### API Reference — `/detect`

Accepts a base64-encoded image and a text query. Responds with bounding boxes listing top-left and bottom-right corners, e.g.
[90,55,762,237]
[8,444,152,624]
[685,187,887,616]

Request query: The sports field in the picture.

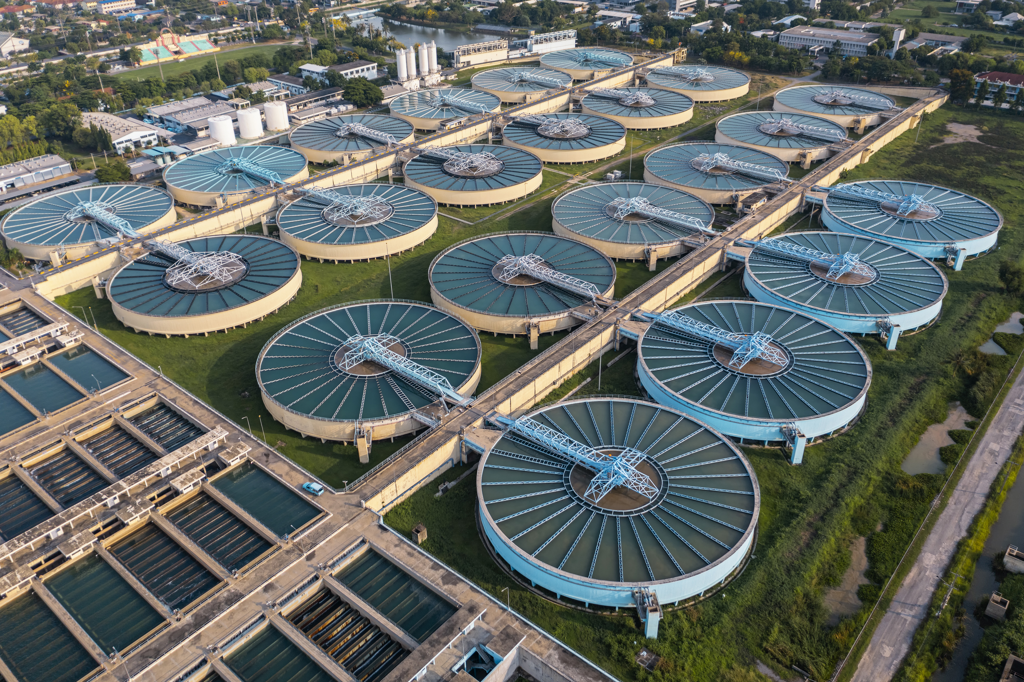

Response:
[114,44,299,85]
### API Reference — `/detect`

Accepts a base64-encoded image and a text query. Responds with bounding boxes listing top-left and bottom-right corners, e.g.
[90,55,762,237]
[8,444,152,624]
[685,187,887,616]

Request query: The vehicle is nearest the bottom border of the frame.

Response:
[304,481,327,494]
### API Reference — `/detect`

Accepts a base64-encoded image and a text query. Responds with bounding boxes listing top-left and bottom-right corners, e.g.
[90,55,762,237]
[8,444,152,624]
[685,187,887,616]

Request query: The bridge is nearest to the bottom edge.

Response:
[494,415,614,475]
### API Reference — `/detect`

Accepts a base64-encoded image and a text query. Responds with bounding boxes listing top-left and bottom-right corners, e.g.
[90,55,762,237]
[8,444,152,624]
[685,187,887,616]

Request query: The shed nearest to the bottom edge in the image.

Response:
[0,569,31,604]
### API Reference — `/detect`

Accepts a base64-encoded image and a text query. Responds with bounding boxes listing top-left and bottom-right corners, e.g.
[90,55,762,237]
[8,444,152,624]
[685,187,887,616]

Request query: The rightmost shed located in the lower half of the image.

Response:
[216,443,253,471]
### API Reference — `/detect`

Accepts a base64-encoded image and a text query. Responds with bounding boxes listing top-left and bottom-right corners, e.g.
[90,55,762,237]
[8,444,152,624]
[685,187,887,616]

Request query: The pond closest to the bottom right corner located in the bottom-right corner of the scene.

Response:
[825,537,868,625]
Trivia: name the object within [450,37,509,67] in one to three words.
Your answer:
building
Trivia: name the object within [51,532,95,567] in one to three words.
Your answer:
shed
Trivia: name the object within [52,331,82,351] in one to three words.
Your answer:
shed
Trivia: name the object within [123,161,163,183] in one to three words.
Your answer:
building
